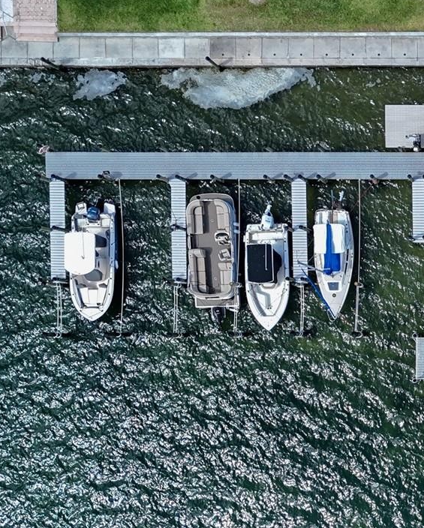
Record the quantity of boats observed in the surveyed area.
4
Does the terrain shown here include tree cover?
No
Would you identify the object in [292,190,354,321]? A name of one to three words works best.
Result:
boat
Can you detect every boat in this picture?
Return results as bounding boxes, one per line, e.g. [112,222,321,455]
[186,193,240,324]
[242,206,290,331]
[64,201,121,322]
[292,190,354,321]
